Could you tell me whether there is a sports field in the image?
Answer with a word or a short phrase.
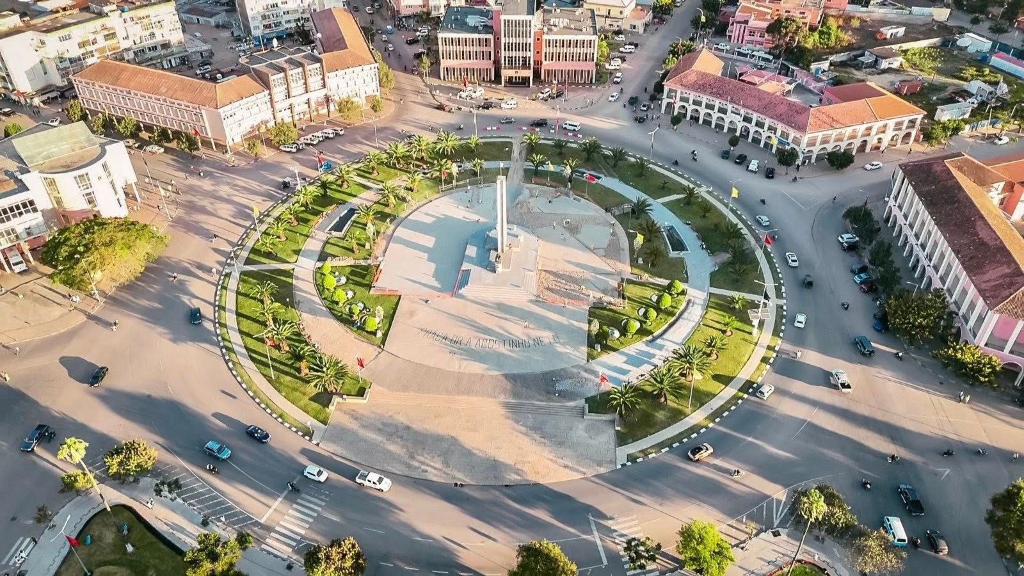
No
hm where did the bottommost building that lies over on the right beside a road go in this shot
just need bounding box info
[884,141,1024,381]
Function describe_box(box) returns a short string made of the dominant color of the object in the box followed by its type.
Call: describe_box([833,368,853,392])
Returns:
white vehicle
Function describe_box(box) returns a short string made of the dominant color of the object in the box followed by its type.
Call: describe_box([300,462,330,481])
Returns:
white car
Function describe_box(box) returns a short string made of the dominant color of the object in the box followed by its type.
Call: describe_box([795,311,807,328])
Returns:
white vehicle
